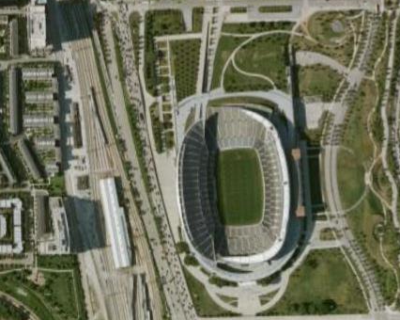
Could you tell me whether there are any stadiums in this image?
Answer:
Yes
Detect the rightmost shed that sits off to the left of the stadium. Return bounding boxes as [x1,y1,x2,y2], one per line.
[100,179,133,267]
